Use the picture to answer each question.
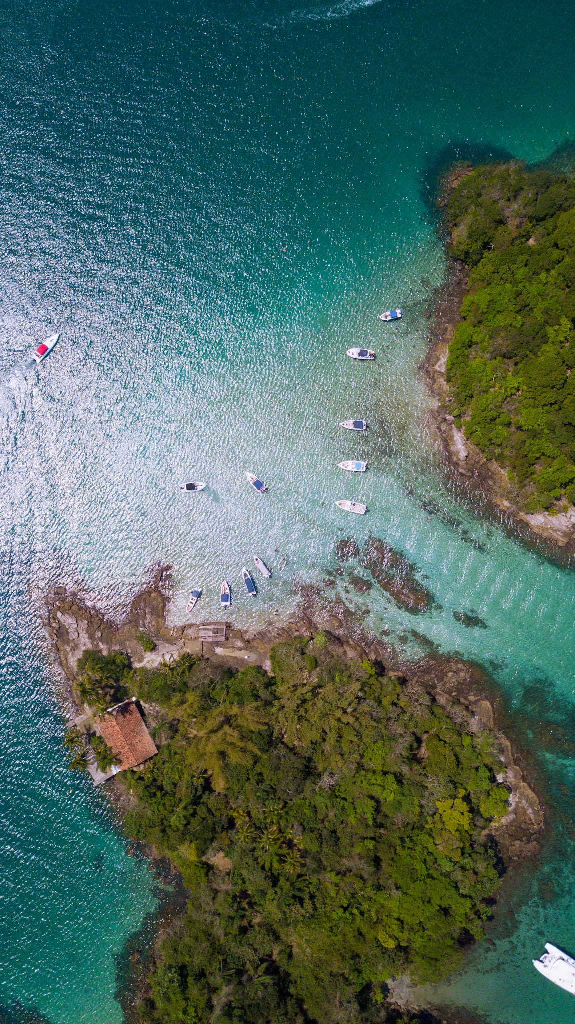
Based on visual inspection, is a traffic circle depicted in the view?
No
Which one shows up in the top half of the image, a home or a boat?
boat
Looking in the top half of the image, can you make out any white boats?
Yes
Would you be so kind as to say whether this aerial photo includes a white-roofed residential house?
No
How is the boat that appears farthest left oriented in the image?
diagonally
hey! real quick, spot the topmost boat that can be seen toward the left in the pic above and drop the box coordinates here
[30,334,59,366]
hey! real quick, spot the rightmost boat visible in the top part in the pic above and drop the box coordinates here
[380,307,404,320]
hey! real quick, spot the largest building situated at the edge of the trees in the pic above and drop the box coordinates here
[95,694,158,770]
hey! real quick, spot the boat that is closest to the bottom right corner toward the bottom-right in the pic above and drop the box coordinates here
[533,938,575,1001]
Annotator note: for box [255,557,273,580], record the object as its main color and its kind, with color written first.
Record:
white boat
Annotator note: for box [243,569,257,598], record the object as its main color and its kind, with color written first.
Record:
blue boat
